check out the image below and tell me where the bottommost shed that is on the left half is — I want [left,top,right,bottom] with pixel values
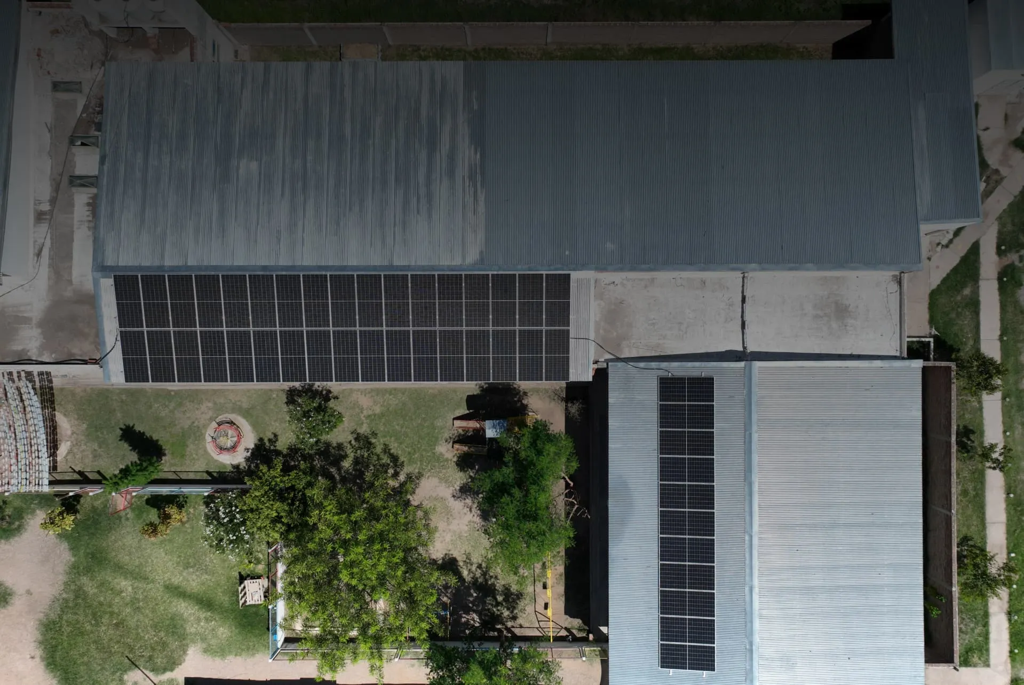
[0,371,70,491]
